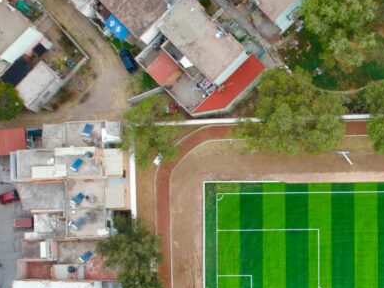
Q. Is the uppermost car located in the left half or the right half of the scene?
left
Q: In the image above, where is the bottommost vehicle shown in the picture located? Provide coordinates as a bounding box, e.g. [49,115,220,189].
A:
[10,216,33,228]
